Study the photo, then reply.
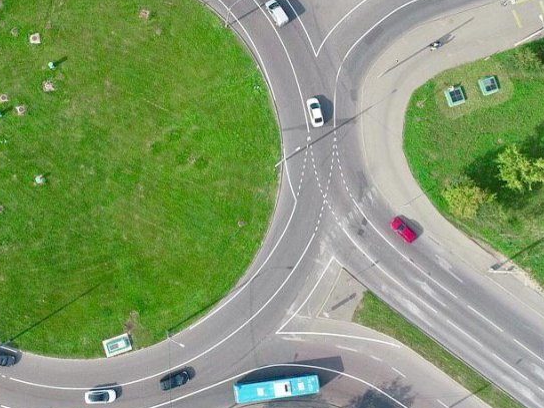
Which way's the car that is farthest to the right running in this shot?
diagonally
